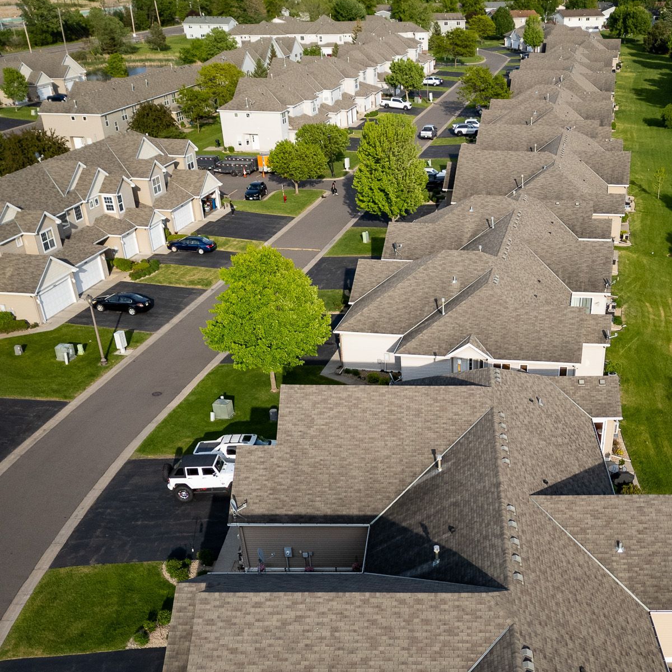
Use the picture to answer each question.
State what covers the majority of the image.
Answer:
buildings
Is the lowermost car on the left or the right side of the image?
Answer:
left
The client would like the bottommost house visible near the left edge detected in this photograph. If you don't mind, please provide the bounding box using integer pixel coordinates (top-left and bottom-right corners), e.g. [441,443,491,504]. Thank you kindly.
[0,118,226,322]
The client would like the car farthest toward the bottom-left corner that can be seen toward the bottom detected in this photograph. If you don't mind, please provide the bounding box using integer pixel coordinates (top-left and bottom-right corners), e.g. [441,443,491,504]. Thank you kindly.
[164,459,233,502]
